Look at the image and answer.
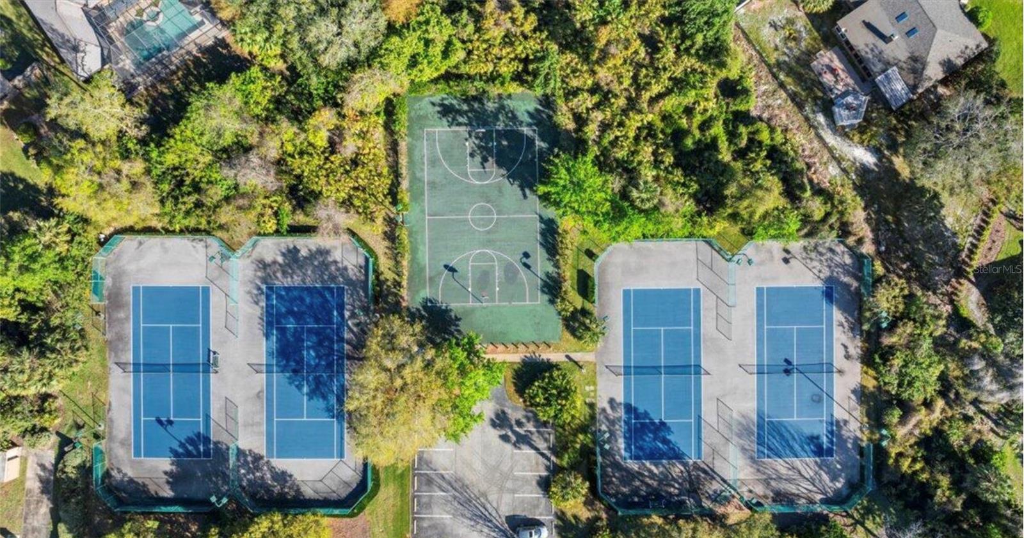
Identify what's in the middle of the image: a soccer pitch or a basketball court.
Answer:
basketball court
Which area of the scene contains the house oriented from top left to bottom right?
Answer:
top left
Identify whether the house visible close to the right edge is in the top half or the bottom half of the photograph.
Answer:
top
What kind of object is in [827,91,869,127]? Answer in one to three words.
gazebo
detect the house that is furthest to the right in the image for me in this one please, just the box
[833,0,988,95]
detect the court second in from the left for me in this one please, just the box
[238,239,376,507]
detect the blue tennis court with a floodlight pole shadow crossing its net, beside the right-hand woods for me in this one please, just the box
[725,242,862,506]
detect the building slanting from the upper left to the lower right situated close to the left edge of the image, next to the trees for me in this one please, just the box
[24,0,102,80]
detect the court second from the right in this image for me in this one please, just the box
[593,242,725,507]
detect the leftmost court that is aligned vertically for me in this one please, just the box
[105,240,237,507]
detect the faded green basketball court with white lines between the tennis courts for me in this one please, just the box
[408,92,562,344]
